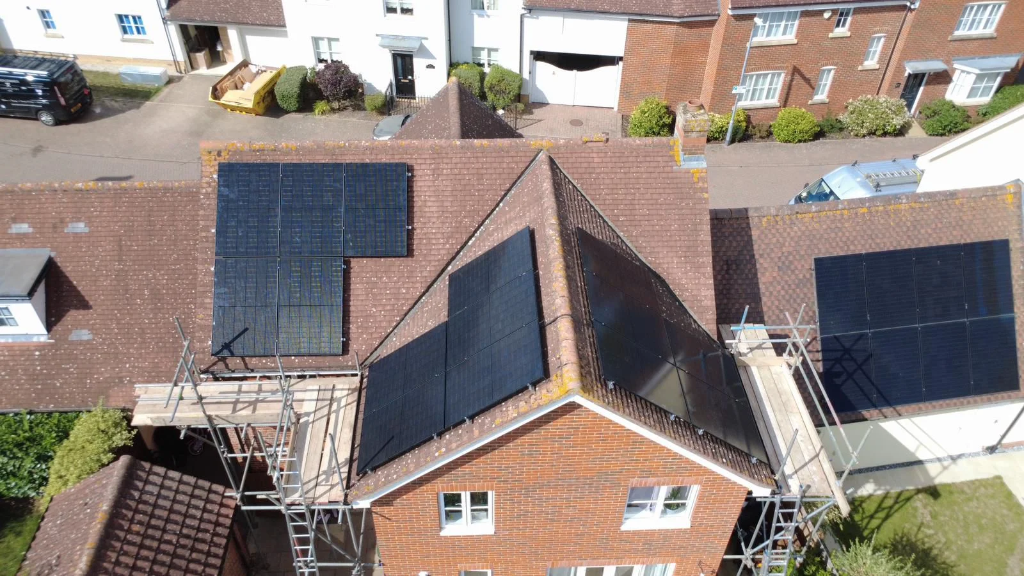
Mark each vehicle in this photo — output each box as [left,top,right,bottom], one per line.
[369,100,425,140]
[0,53,89,126]
[785,153,940,201]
